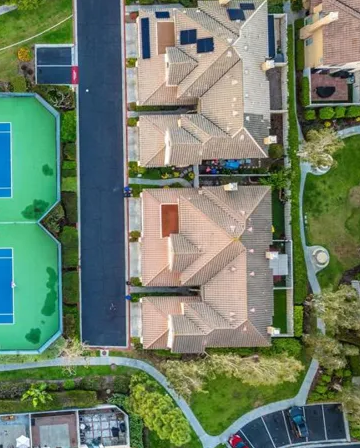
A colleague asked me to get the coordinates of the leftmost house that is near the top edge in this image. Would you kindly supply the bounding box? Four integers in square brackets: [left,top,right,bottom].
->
[135,0,278,167]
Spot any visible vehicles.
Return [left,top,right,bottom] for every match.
[287,404,312,441]
[231,435,252,448]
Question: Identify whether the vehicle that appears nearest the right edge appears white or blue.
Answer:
blue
